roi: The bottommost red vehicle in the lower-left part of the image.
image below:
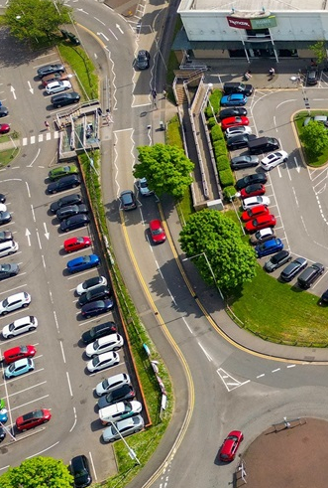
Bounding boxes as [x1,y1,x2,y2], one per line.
[15,409,52,432]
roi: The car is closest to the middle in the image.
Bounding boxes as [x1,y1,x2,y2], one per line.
[149,219,165,243]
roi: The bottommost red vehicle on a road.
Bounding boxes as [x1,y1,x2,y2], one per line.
[218,429,244,461]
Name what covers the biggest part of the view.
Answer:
paved ground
